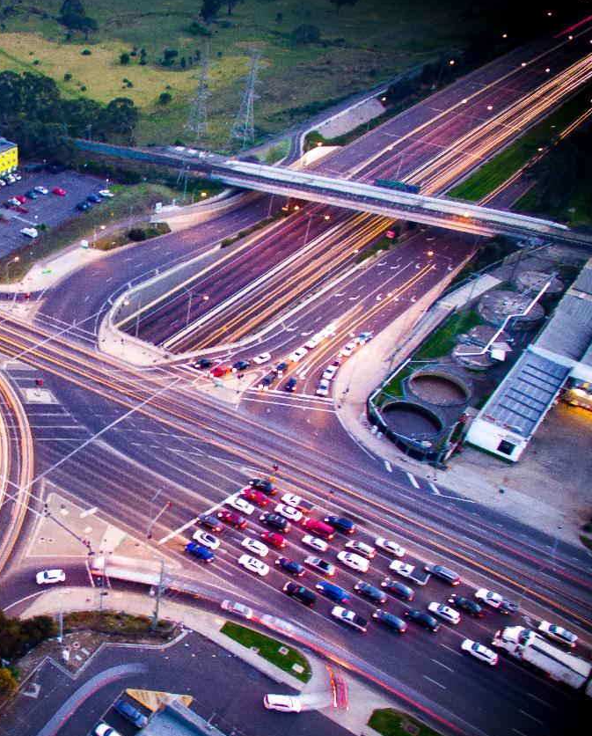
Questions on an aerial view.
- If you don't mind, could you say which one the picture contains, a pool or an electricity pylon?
electricity pylon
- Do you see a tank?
Yes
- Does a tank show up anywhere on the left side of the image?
No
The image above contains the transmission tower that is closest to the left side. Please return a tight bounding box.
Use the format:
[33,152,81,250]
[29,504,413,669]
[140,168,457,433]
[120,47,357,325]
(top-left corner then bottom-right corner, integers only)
[177,39,219,142]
